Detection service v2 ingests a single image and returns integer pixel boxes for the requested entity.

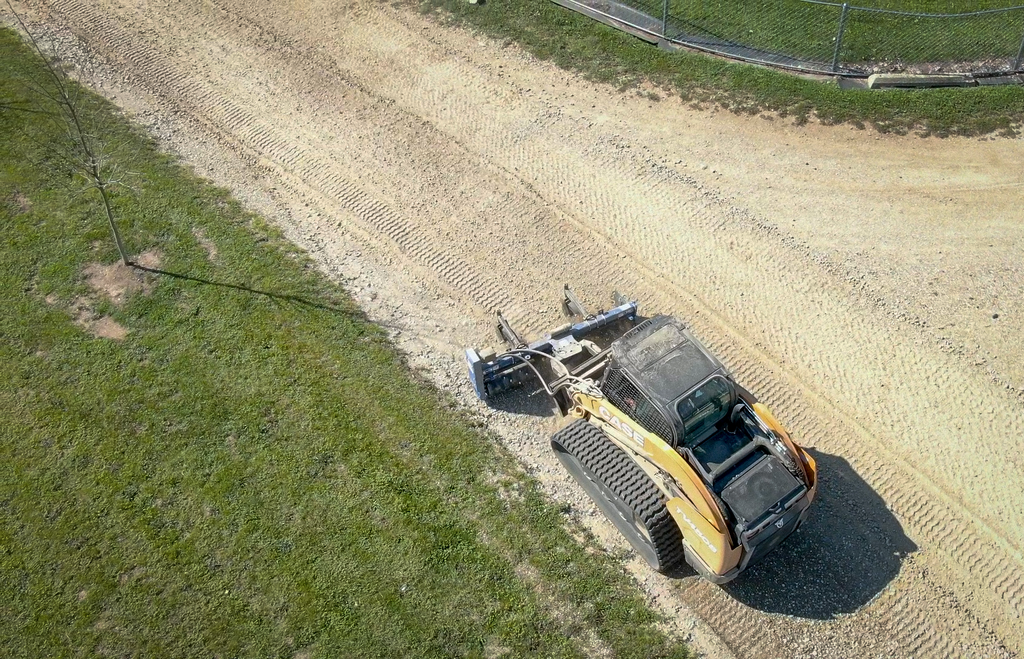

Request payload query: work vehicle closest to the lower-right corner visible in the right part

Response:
[552,318,820,586]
